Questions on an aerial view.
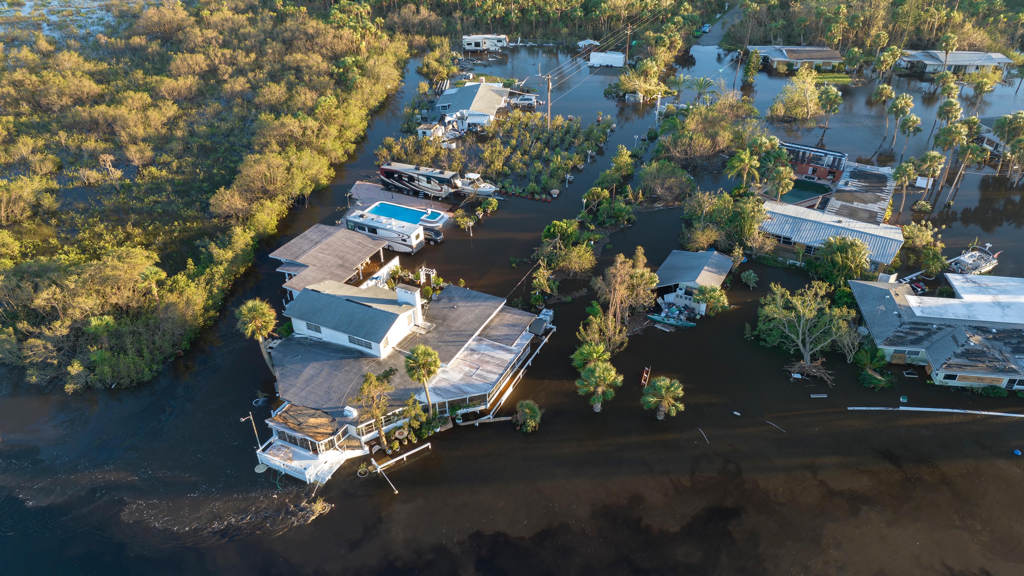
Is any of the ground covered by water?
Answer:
Yes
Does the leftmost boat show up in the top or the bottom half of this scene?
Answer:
top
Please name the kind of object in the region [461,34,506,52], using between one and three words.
camper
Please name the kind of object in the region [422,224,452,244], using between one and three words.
car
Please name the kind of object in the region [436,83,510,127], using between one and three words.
house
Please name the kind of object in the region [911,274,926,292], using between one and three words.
boat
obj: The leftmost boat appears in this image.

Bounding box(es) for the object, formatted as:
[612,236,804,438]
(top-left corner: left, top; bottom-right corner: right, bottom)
[459,175,499,196]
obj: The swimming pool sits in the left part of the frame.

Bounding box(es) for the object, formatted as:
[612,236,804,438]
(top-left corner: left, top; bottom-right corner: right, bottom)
[359,201,449,227]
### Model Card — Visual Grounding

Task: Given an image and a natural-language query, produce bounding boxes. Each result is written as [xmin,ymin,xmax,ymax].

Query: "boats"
[911,274,926,292]
[957,243,1002,275]
[459,175,499,196]
[647,313,697,327]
